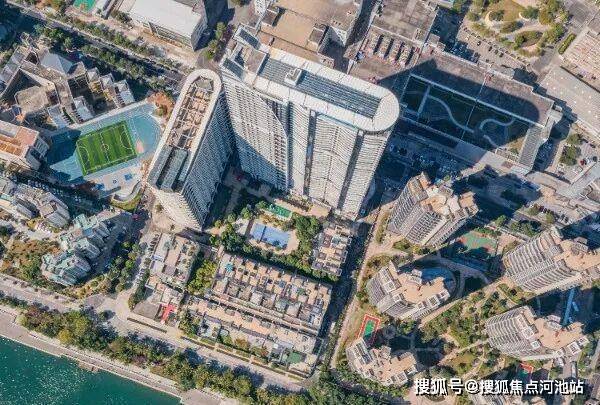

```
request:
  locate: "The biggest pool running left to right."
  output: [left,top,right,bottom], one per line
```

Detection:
[236,214,300,251]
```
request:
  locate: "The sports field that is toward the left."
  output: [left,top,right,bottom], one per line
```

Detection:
[47,104,164,186]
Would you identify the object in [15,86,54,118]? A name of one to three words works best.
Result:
building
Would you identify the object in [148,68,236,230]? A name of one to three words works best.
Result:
building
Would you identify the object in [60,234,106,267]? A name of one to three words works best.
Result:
house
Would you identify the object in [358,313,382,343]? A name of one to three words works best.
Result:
sports court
